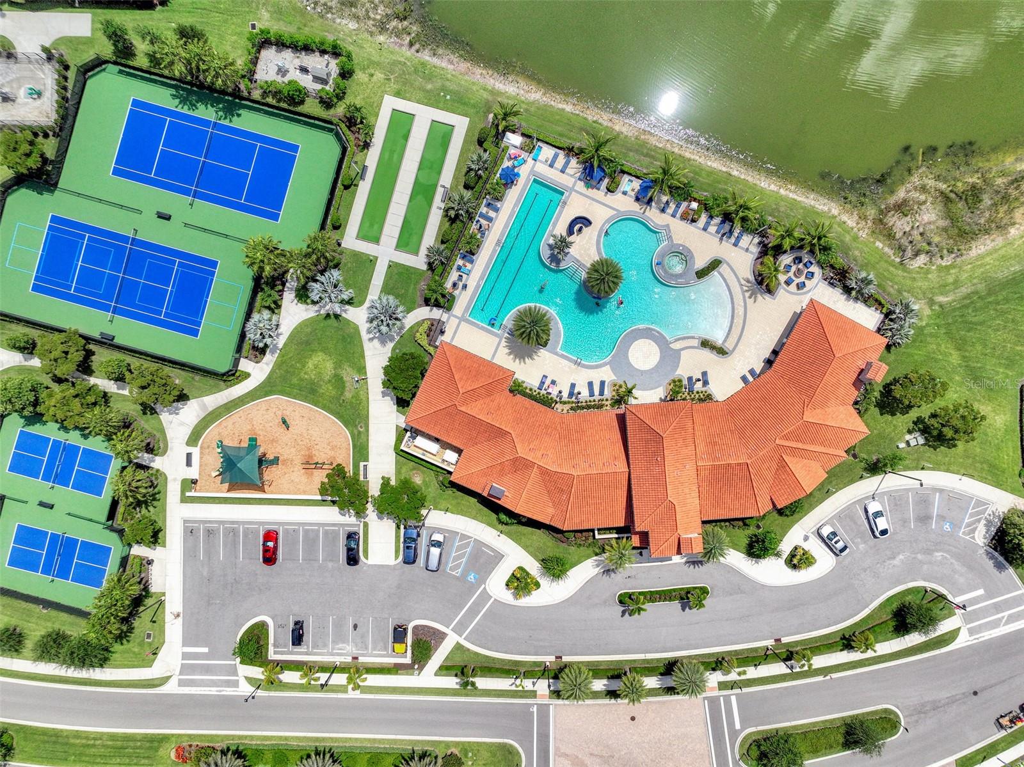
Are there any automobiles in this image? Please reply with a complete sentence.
Yes, there's an automobile down there.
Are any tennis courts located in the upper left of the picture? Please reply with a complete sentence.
Yes, there is a tennis court in the upper left of the picture.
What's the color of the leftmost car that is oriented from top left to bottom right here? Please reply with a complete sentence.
The leftmost car that is oriented from top left to bottom right looks white in the image.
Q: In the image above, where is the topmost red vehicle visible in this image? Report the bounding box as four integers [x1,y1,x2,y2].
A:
[259,531,277,566]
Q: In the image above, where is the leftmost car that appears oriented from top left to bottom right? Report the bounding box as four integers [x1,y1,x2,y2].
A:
[821,524,849,559]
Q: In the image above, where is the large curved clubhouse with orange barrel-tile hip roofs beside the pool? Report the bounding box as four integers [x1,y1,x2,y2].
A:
[404,298,889,558]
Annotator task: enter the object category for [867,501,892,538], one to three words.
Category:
car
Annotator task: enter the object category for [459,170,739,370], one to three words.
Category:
swimming pool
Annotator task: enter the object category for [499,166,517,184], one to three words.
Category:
umbrella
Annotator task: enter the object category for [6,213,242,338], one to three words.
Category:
tennis court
